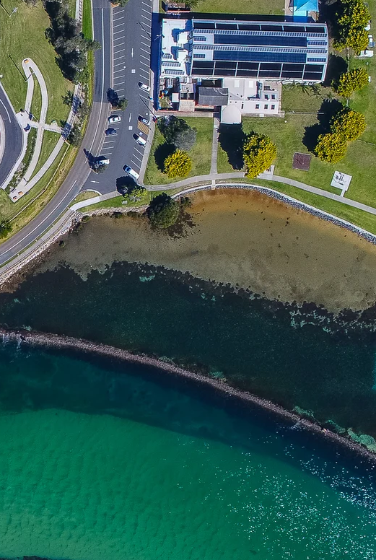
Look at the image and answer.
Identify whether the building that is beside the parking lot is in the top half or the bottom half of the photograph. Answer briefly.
top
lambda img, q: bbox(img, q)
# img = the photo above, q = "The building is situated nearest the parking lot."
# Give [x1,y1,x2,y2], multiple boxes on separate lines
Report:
[190,18,329,87]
